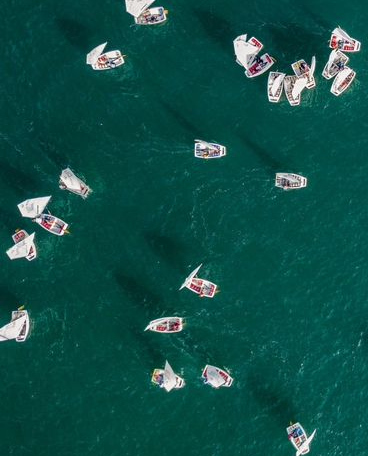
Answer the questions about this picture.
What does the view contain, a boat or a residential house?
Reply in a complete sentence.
Looking from above, you can make out a boat.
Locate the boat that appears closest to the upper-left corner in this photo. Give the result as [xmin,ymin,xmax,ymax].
[85,41,130,71]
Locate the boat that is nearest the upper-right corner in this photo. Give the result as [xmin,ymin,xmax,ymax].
[327,27,362,52]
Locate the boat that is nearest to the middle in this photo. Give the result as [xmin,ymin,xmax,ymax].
[179,262,223,298]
